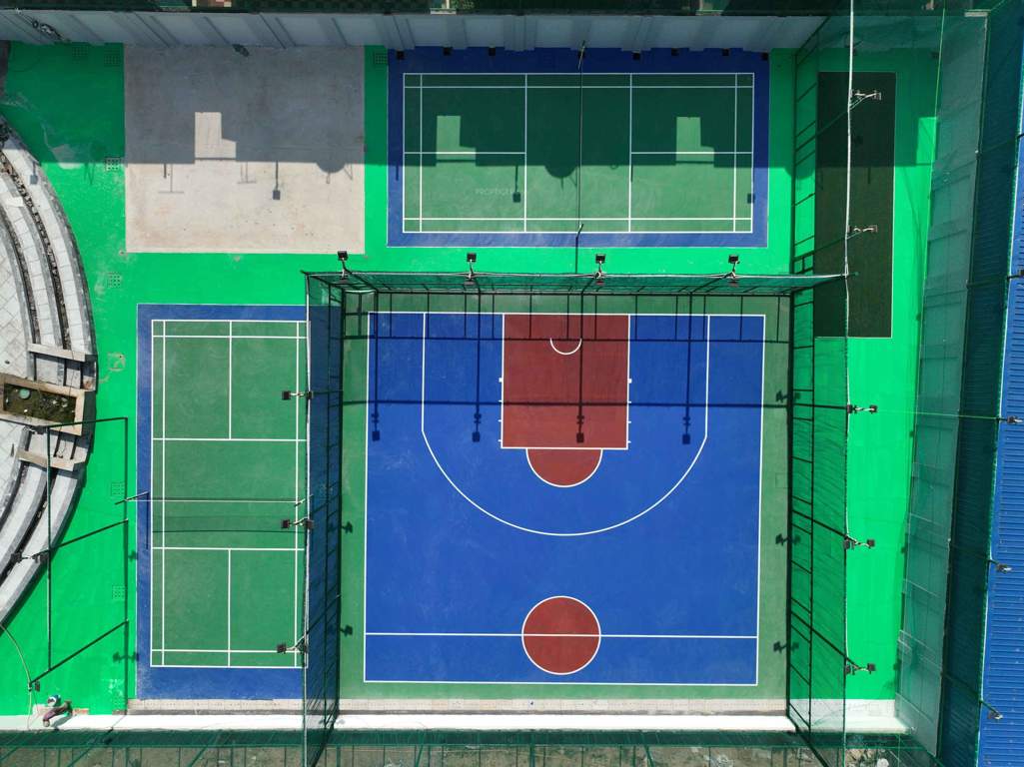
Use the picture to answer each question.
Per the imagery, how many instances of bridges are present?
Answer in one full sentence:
The photo contains no bridges.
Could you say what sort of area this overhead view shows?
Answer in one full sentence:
It's a sports ground.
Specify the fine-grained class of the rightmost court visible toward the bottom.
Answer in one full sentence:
It looks like the rightmost court visible toward the bottom is a basketball court.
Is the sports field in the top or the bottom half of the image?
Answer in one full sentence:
The sports field is in the top half of the image.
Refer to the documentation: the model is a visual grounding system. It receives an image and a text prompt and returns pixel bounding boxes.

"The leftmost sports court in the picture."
[135,303,340,699]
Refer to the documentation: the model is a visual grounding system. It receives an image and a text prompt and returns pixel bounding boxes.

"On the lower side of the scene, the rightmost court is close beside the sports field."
[339,293,790,699]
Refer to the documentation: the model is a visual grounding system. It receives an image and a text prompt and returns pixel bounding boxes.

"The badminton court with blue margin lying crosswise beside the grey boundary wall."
[386,45,771,247]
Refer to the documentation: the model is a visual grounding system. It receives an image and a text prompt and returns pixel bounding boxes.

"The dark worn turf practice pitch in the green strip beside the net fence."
[815,70,898,339]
